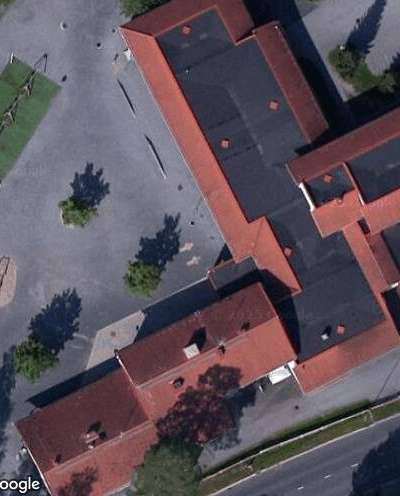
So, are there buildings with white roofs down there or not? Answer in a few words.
No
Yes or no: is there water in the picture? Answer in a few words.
No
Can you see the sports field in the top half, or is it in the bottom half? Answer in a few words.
top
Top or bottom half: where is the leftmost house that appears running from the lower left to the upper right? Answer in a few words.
bottom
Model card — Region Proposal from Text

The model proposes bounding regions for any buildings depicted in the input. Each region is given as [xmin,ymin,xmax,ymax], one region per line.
[15,281,297,496]
[121,0,400,395]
